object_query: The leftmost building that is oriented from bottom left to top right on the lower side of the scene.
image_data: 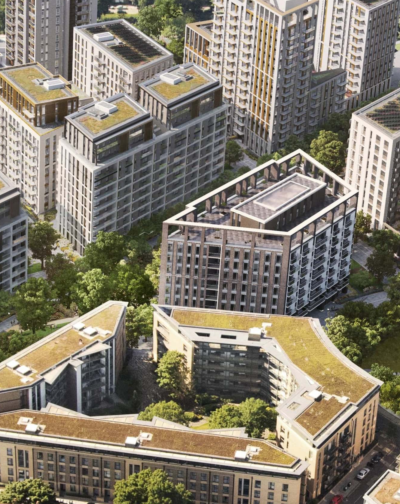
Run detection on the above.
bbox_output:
[0,302,128,416]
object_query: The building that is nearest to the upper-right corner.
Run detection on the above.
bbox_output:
[312,0,400,100]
